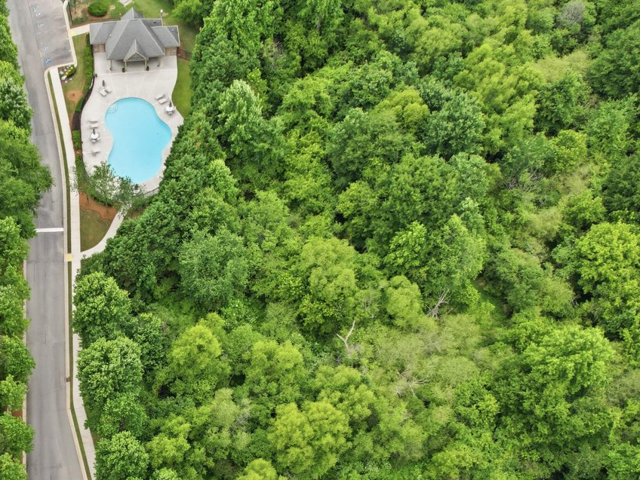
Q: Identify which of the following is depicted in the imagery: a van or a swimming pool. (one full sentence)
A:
I can see a swimming pool in this picture.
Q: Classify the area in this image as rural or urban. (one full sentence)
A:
It looks rural.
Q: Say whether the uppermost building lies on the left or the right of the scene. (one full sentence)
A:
The uppermost building is on the left side of the image.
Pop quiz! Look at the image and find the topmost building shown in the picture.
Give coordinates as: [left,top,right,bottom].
[81,0,180,74]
